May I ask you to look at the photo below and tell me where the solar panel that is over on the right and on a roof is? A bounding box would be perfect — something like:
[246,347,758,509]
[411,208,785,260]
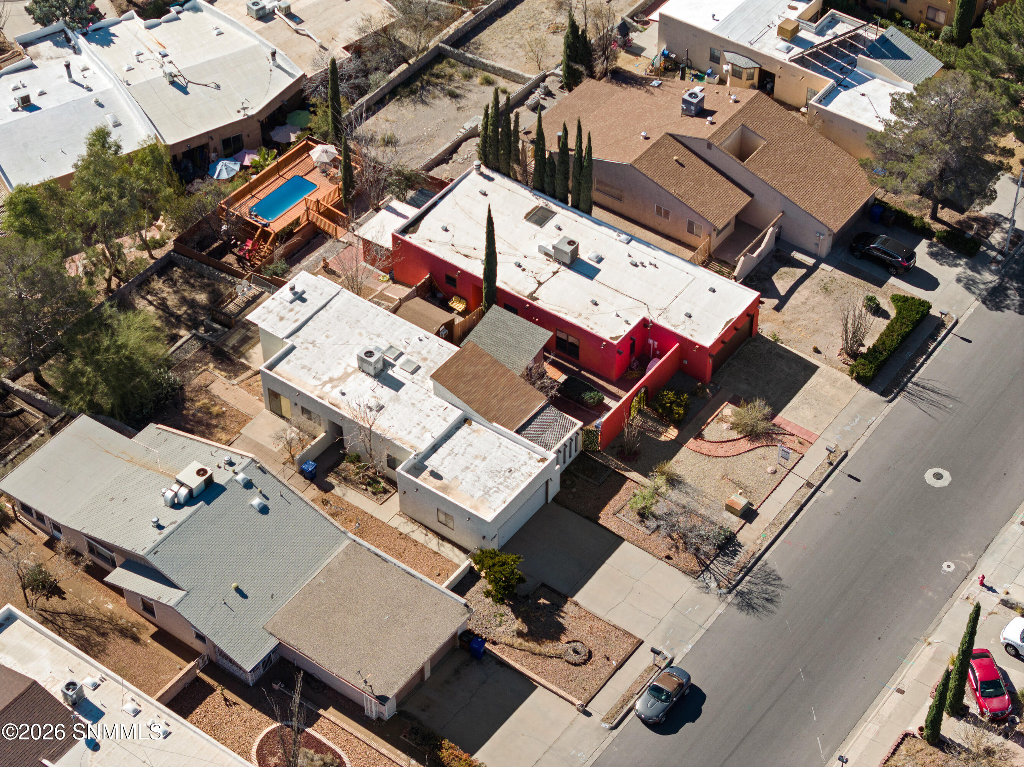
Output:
[787,20,874,75]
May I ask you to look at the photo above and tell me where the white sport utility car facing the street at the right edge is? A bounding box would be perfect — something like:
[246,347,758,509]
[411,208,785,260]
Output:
[1000,616,1024,654]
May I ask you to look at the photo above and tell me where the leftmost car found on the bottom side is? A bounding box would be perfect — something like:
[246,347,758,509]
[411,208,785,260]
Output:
[632,665,692,727]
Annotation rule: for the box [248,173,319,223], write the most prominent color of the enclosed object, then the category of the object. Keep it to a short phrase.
blue swimming pool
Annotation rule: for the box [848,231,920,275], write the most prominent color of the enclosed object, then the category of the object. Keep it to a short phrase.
black car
